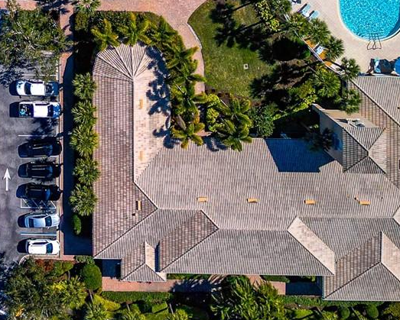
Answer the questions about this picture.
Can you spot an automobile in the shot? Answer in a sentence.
Yes, an automobile is visible in the scene.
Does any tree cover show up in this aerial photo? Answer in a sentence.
Yes, there is tree cover in the image.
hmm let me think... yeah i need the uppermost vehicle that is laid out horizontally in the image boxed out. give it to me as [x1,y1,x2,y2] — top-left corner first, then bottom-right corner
[17,81,57,98]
